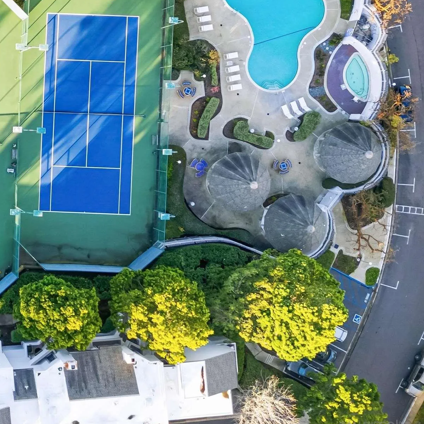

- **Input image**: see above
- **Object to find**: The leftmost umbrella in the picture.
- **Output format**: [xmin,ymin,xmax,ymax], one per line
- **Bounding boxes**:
[205,151,270,214]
